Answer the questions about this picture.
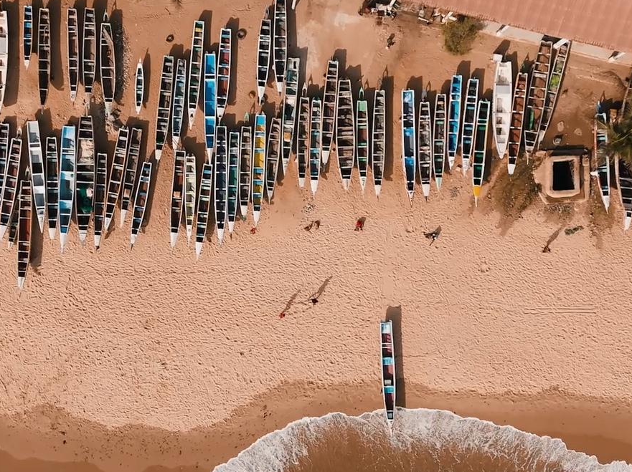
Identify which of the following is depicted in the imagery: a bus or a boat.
boat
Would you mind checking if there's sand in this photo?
Yes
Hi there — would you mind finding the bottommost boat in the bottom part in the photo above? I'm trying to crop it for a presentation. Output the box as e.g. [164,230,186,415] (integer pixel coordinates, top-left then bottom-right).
[382,320,395,439]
